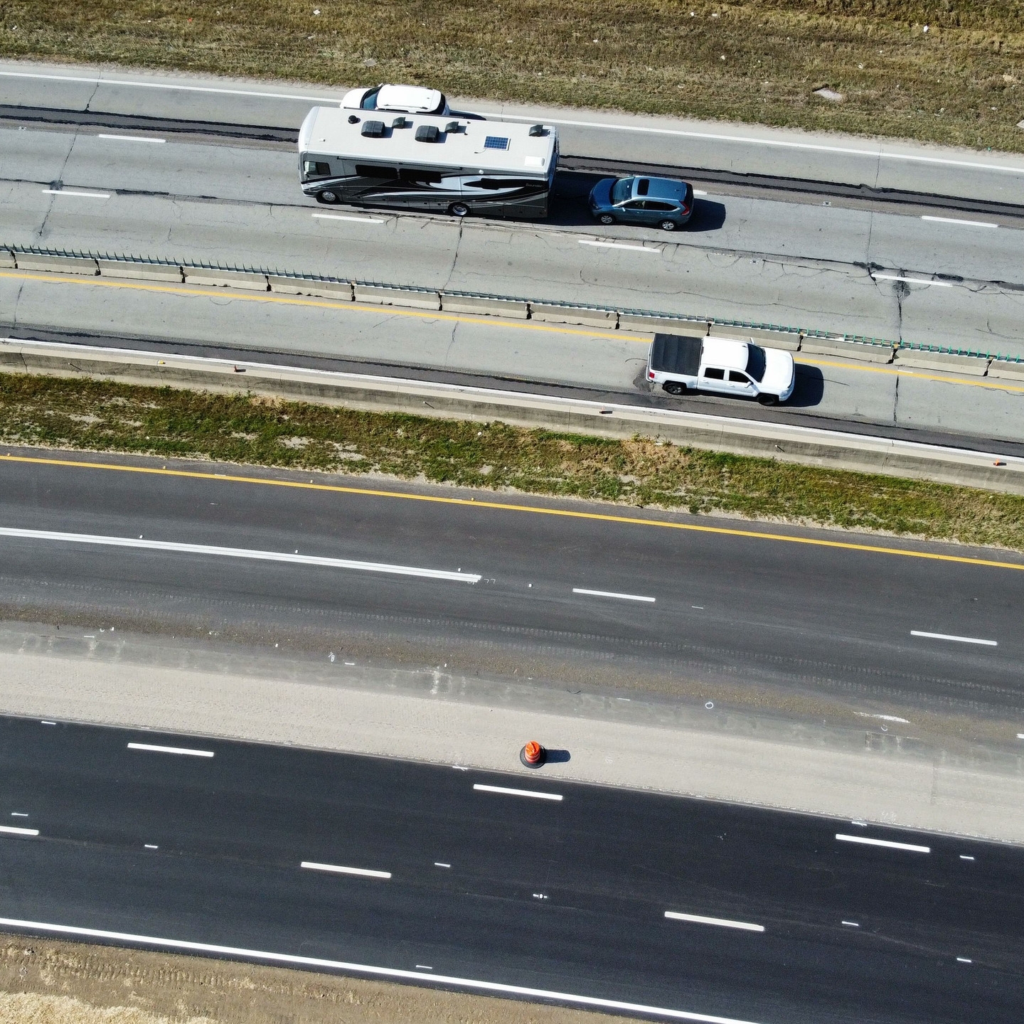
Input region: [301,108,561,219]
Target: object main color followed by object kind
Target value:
white camper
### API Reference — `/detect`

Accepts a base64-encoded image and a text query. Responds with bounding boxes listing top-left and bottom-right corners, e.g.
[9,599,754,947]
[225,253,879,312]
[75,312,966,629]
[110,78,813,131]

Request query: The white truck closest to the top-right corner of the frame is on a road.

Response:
[645,333,796,407]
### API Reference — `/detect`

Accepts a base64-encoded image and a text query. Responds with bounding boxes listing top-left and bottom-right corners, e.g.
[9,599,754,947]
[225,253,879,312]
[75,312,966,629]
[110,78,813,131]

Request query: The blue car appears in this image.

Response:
[588,173,695,230]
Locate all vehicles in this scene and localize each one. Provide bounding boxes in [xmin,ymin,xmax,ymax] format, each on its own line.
[301,108,561,219]
[645,333,796,407]
[588,173,695,230]
[339,81,452,116]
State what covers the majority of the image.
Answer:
paved ground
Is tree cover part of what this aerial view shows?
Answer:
No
